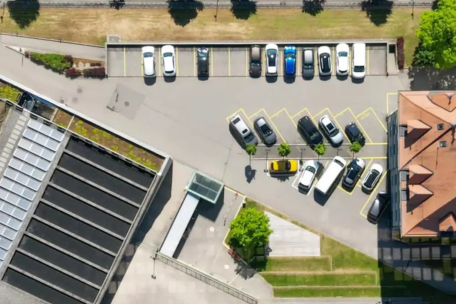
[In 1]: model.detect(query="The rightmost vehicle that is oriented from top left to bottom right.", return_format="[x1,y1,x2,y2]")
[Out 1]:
[345,119,366,146]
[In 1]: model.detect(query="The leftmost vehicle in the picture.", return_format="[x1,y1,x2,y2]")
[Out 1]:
[141,45,156,77]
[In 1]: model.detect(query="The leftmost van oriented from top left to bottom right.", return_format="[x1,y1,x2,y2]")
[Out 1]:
[229,111,257,147]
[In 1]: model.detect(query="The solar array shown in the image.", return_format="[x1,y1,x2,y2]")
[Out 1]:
[0,119,64,264]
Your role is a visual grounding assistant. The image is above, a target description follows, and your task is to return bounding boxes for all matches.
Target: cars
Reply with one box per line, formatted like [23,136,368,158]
[367,192,390,224]
[161,44,176,76]
[283,46,298,75]
[361,162,382,192]
[141,45,156,77]
[269,158,297,172]
[298,162,318,192]
[301,48,315,77]
[297,113,324,147]
[335,44,350,76]
[195,46,210,76]
[319,115,343,146]
[343,157,365,188]
[264,44,279,75]
[318,47,332,76]
[254,115,277,147]
[345,119,366,146]
[248,47,263,76]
